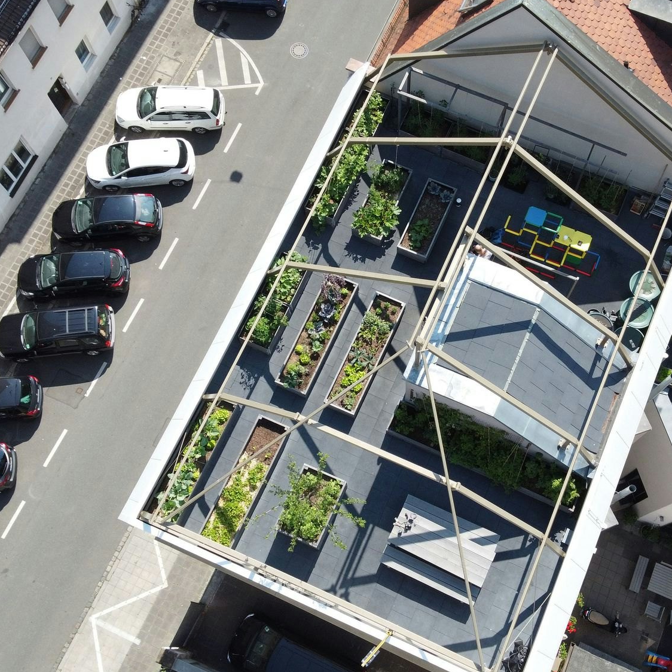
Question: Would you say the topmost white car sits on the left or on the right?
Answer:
left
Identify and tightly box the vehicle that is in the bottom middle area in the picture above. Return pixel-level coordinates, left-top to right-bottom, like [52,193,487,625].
[224,610,374,672]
